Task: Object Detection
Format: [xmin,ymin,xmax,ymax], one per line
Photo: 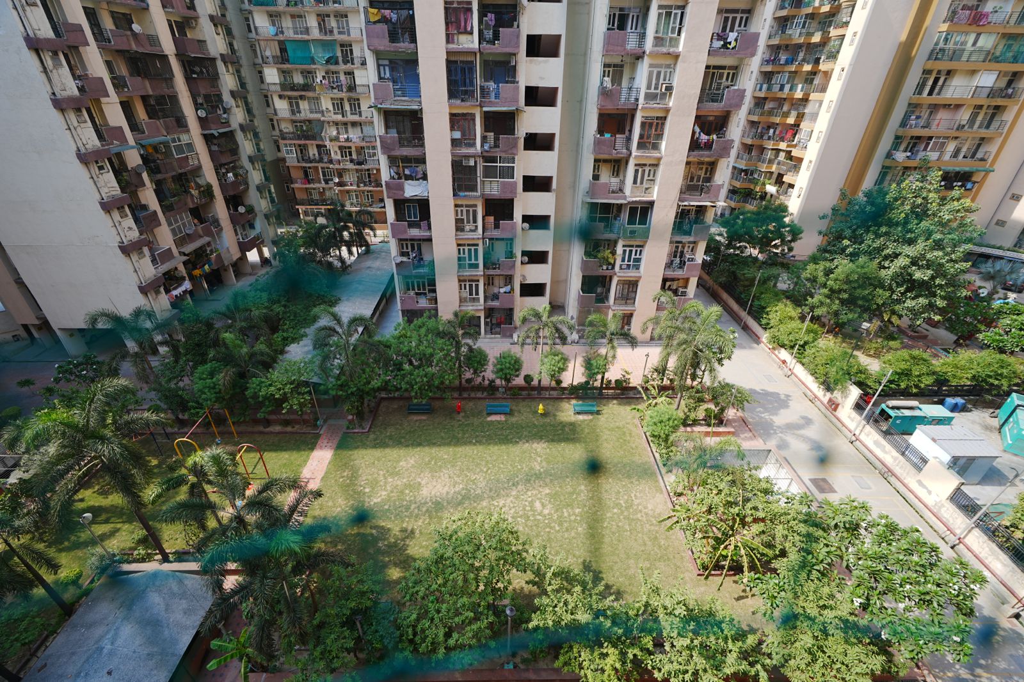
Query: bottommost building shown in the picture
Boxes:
[15,573,237,682]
